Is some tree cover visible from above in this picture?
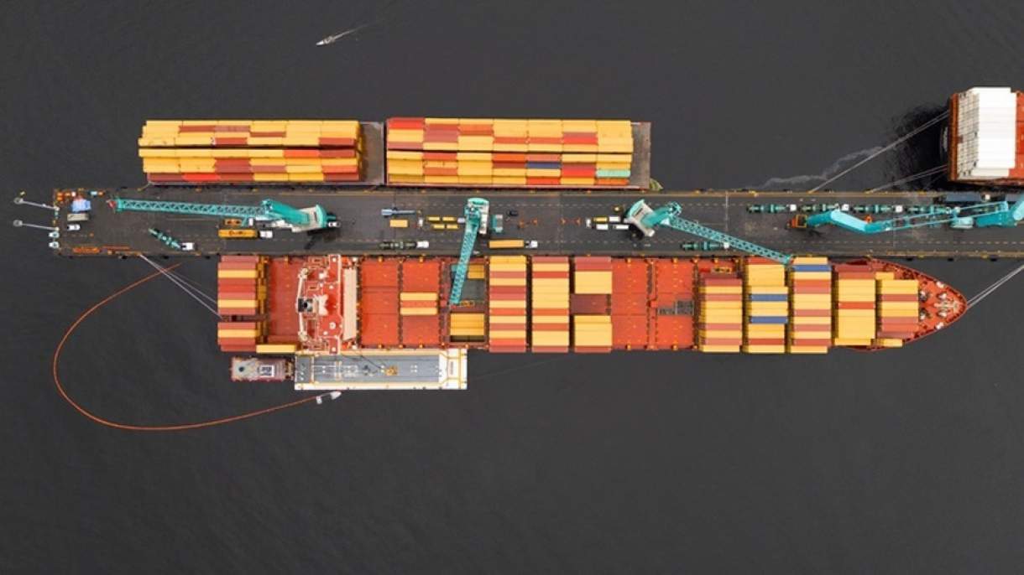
No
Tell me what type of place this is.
port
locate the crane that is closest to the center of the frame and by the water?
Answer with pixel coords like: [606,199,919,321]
[450,195,503,311]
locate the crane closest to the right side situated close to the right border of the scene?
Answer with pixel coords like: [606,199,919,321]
[792,200,1024,239]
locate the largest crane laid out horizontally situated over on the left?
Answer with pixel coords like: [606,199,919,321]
[111,201,340,239]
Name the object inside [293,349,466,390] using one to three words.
ship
